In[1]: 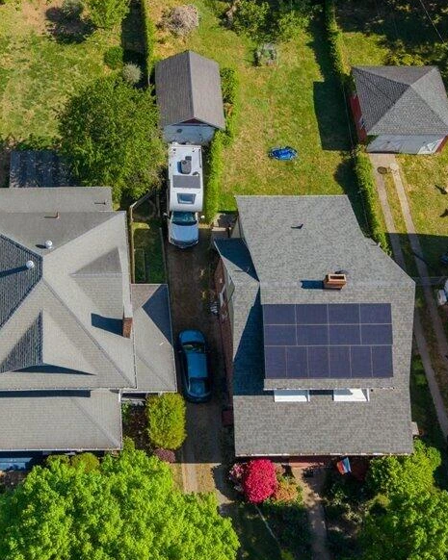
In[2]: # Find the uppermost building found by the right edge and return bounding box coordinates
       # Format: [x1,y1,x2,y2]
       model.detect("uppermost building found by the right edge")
[346,65,448,153]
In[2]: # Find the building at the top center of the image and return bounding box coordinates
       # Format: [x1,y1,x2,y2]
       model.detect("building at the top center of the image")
[158,50,226,148]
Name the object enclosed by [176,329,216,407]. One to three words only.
car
